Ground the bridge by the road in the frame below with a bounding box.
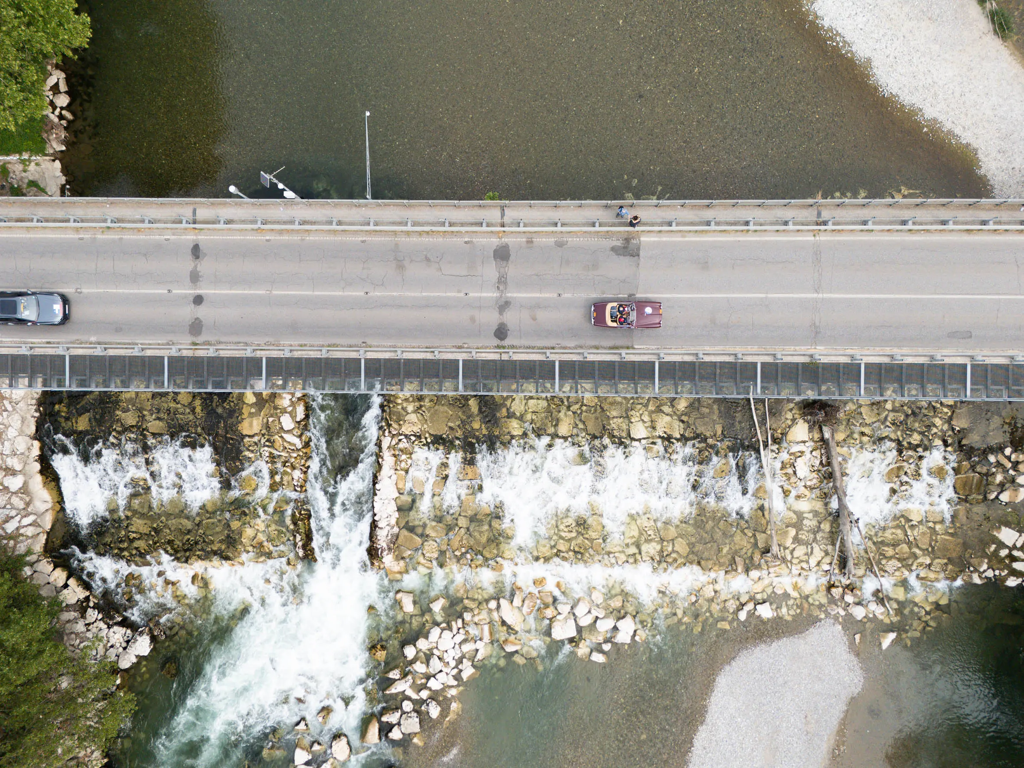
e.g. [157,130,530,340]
[0,203,1024,361]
